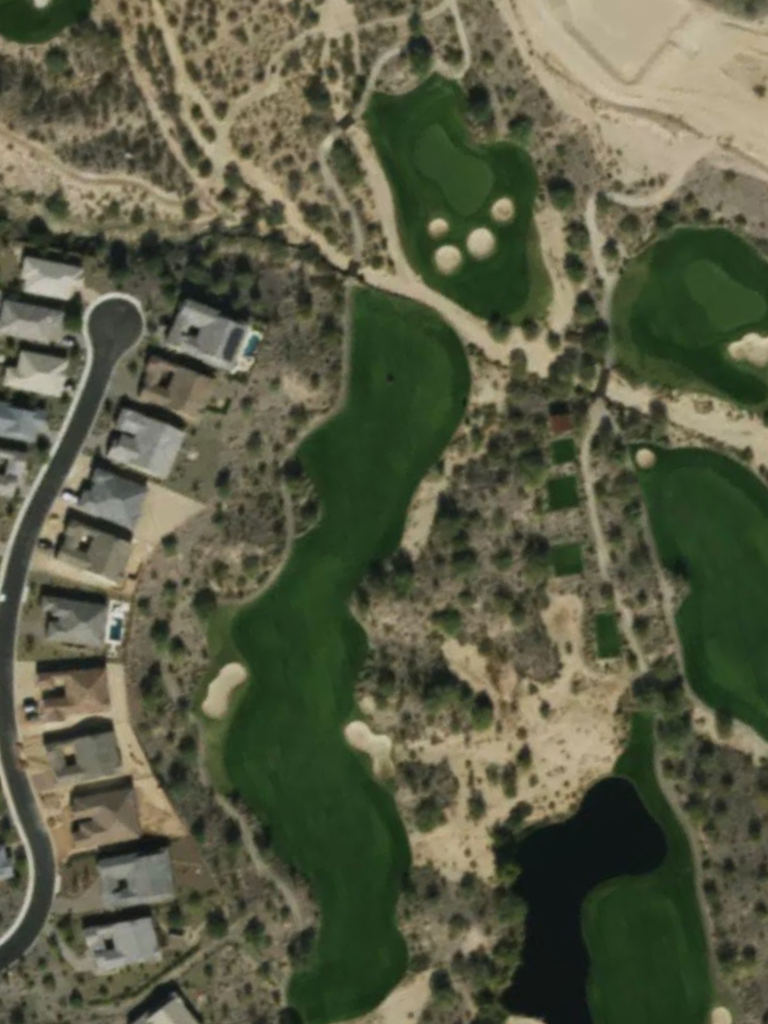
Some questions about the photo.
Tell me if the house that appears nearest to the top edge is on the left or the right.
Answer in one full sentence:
The house that appears nearest to the top edge is on the left side of the image.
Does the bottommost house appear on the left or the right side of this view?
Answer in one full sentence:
The bottommost house is on the left side of the image.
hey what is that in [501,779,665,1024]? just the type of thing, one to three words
pond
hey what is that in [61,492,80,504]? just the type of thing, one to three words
vehicle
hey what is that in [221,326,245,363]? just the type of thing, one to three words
solar panel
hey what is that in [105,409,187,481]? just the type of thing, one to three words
house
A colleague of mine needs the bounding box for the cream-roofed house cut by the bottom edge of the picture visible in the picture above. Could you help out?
[132,994,195,1024]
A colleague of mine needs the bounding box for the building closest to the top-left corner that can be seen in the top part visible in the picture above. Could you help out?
[20,257,85,299]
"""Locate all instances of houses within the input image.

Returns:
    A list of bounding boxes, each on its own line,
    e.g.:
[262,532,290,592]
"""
[165,298,249,371]
[56,519,132,580]
[4,352,69,396]
[0,400,51,444]
[69,790,139,846]
[20,257,85,299]
[105,409,187,481]
[0,300,65,344]
[78,467,149,530]
[40,597,108,643]
[136,355,206,415]
[0,454,29,499]
[132,994,195,1024]
[97,849,174,907]
[85,918,160,974]
[37,671,111,717]
[47,731,122,783]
